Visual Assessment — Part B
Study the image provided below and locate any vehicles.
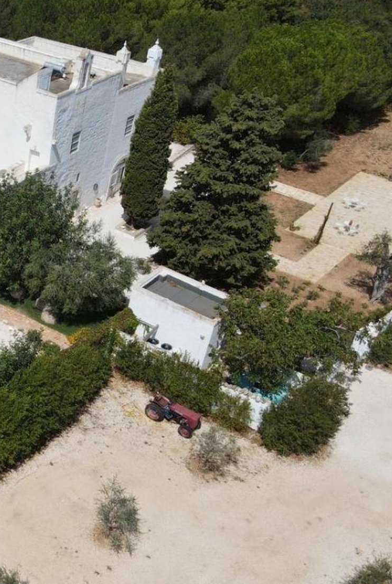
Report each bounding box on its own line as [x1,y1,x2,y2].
[139,387,206,440]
